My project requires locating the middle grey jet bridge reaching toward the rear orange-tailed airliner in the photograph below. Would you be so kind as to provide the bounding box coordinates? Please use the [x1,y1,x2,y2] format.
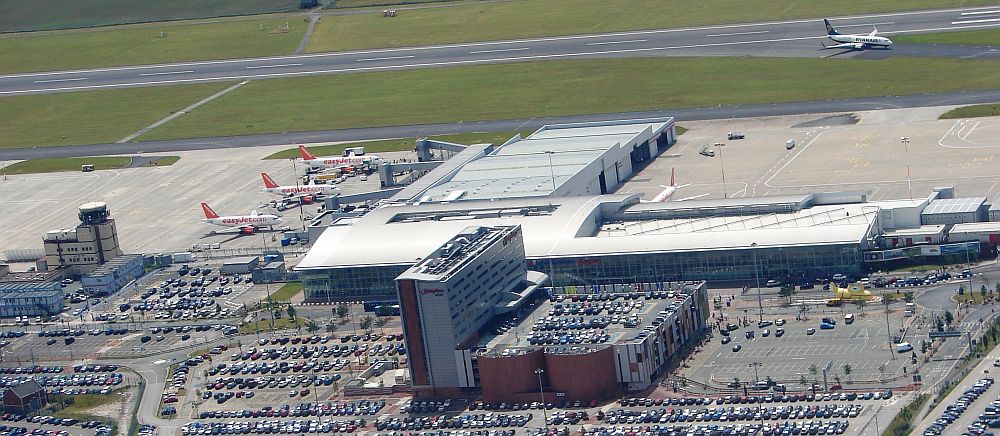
[375,162,452,189]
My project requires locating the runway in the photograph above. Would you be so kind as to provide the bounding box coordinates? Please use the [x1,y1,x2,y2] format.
[0,6,1000,95]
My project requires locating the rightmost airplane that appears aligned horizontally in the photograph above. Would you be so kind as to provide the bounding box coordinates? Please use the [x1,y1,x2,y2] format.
[825,21,893,51]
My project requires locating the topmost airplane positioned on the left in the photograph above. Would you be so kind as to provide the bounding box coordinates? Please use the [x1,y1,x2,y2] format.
[302,143,385,173]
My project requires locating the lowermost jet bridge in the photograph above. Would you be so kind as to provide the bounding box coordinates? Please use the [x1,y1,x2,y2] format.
[320,186,412,214]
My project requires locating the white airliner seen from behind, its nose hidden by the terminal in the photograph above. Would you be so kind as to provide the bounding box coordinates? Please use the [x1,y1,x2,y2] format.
[646,166,703,202]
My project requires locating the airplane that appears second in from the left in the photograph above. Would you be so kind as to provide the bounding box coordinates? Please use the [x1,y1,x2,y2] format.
[260,170,341,202]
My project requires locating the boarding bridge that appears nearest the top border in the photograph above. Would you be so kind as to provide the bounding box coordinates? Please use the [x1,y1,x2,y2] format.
[412,137,473,166]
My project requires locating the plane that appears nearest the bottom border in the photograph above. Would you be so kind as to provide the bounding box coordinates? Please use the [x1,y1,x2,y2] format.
[198,200,283,234]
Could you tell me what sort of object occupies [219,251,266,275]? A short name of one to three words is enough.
shed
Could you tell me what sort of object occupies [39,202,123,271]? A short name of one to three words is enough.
building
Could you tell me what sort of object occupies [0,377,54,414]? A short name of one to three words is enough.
house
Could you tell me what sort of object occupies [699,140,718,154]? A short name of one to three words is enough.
vehicle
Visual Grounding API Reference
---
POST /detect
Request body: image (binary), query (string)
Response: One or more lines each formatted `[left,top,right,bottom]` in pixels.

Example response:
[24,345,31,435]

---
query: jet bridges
[320,186,412,214]
[412,137,473,166]
[375,162,452,189]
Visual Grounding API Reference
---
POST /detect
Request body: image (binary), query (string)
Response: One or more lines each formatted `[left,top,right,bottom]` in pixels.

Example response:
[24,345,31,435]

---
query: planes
[198,200,283,234]
[646,166,703,202]
[260,170,341,202]
[825,21,893,51]
[302,143,385,173]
